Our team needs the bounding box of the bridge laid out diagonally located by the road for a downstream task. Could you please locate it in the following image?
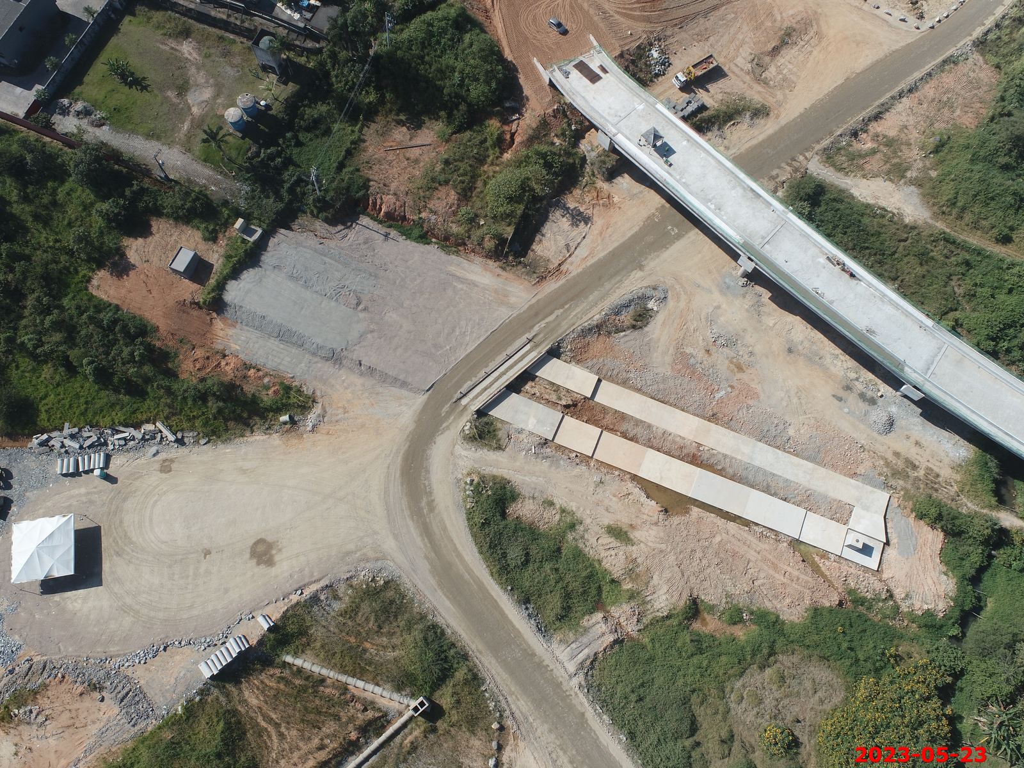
[533,36,1024,462]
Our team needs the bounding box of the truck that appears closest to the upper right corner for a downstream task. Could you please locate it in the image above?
[676,54,722,85]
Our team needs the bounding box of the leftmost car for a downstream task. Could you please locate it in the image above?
[548,15,570,34]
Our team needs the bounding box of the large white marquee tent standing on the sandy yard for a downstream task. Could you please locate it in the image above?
[11,514,86,583]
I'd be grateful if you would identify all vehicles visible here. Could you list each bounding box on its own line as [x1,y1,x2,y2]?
[548,15,570,34]
[676,54,722,85]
